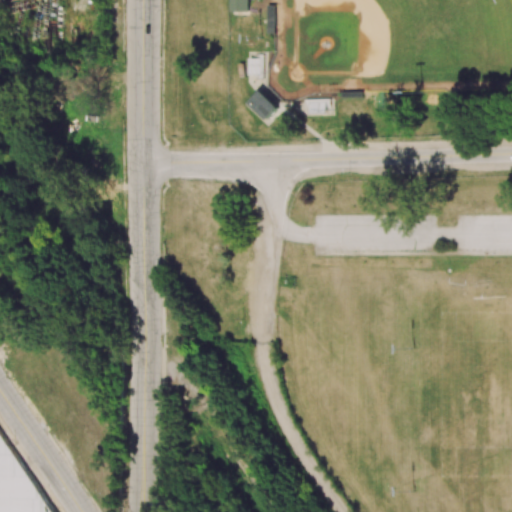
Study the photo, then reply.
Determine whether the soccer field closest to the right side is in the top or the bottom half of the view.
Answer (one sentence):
The soccer field closest to the right side is in the bottom half of the image.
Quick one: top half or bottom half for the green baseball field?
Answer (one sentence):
The top half of the photo is where the green baseball field is.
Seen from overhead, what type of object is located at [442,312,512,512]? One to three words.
soccer field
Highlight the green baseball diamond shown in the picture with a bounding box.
[269,0,512,101]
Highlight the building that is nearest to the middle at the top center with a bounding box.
[246,91,280,118]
